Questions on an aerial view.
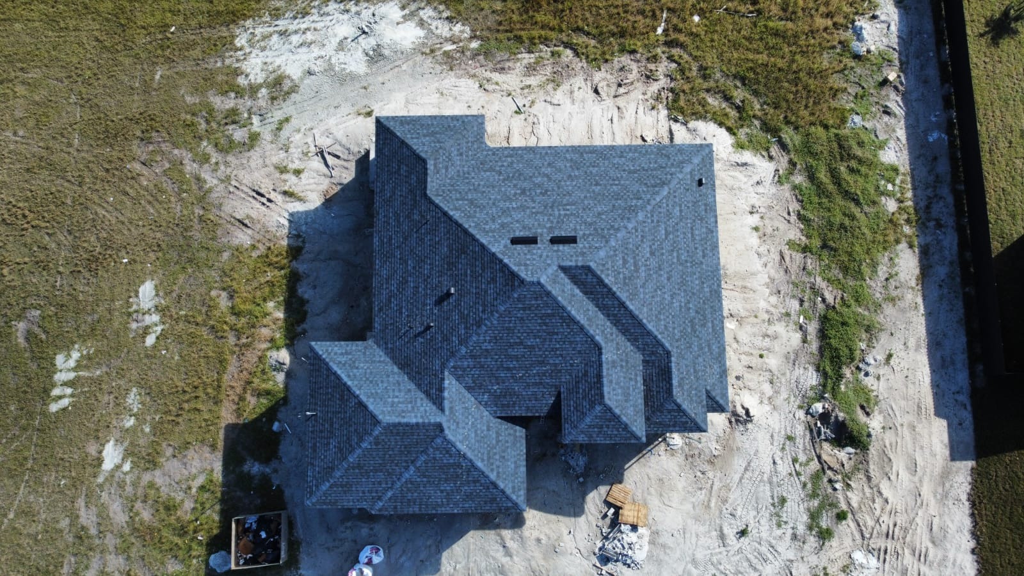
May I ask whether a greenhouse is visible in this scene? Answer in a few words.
No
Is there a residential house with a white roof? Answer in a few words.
No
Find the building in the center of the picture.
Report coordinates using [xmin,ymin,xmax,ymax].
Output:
[303,112,730,515]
